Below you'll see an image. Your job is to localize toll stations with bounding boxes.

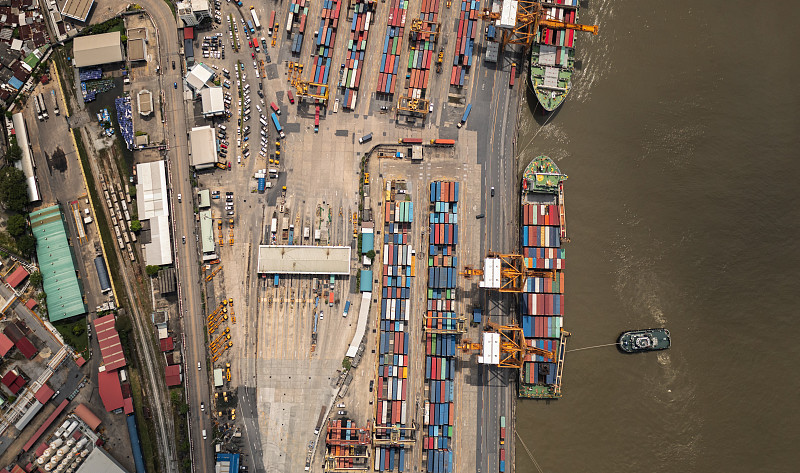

[257,245,357,276]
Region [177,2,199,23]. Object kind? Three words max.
building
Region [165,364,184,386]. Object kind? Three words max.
house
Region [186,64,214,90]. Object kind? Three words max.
shed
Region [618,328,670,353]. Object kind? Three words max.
boat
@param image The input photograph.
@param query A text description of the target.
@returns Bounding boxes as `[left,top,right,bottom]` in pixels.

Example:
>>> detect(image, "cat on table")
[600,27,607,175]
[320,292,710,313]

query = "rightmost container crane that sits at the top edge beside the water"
[475,0,598,54]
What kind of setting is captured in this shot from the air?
port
